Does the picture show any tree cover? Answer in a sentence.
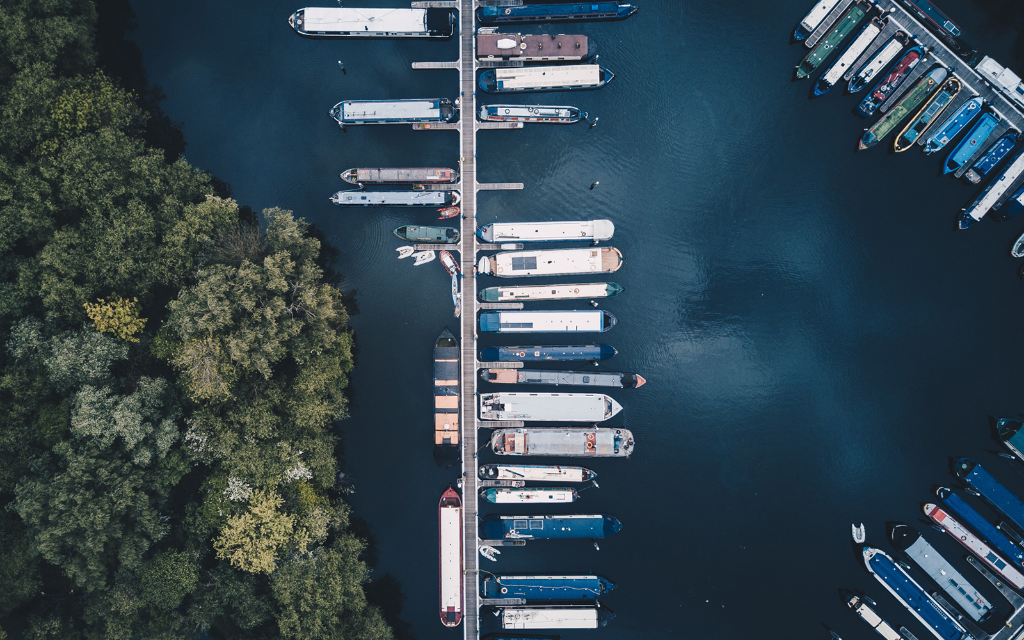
Yes, there is tree cover in the image.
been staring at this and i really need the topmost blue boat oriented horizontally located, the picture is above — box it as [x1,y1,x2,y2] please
[477,1,639,26]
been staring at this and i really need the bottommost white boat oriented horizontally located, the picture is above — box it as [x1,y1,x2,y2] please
[481,601,616,629]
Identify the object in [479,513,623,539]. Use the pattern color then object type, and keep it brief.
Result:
blue boat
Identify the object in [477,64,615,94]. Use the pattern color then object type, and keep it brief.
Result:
white boat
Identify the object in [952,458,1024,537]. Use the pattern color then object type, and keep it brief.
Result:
blue boat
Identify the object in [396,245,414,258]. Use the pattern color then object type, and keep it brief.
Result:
white boat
